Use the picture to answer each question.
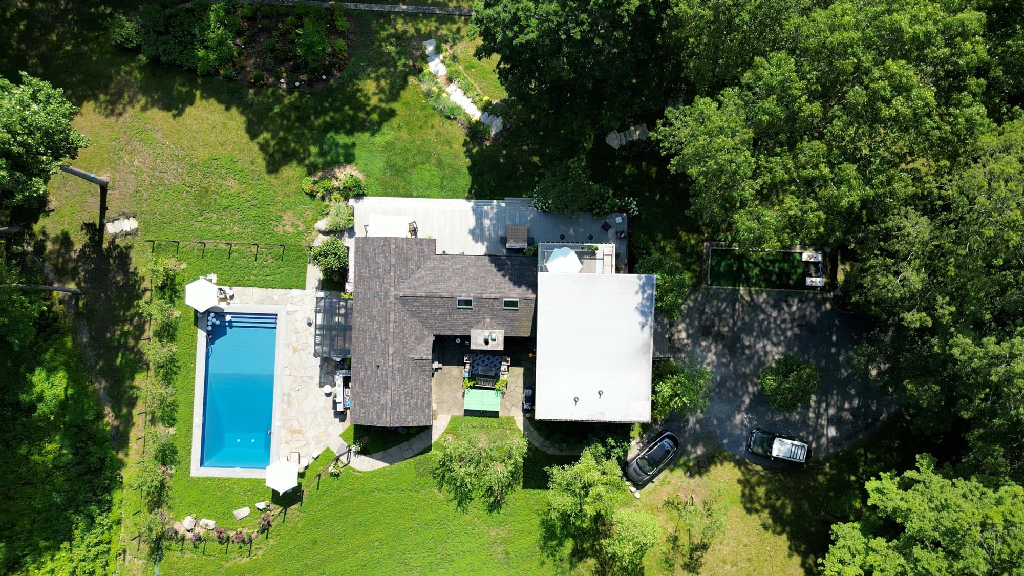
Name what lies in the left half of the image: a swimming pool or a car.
swimming pool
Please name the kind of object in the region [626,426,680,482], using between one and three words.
car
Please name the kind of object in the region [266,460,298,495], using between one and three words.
umbrella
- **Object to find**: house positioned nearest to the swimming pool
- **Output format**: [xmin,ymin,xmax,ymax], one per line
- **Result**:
[351,237,537,433]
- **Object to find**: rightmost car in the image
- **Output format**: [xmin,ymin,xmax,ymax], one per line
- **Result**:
[746,430,815,466]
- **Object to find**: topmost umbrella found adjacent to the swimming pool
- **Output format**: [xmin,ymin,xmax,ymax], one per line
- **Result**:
[186,278,218,312]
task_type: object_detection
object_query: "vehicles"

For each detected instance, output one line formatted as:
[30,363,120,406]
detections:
[626,426,680,482]
[746,430,815,466]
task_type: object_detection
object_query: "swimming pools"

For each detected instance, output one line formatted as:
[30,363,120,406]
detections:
[190,305,286,479]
